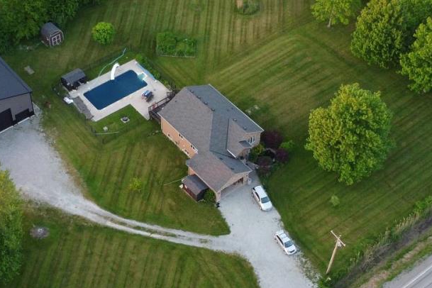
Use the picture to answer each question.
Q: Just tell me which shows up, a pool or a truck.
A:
pool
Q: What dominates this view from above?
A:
grass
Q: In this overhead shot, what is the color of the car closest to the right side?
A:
white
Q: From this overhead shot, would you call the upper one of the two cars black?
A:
No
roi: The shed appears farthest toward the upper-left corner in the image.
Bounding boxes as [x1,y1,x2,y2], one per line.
[40,25,62,48]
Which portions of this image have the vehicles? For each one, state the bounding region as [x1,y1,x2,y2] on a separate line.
[274,228,300,255]
[250,182,275,209]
